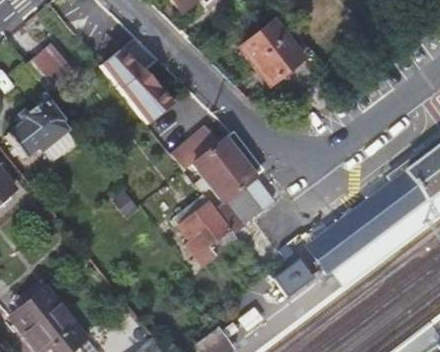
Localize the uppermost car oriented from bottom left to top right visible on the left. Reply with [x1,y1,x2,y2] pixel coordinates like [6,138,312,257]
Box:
[155,110,177,130]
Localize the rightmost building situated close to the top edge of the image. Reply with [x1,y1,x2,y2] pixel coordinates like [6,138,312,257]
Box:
[242,18,312,89]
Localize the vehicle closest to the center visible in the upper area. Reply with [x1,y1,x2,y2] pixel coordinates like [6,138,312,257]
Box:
[166,125,187,146]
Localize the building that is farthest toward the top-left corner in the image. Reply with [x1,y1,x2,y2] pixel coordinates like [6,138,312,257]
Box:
[29,42,70,82]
